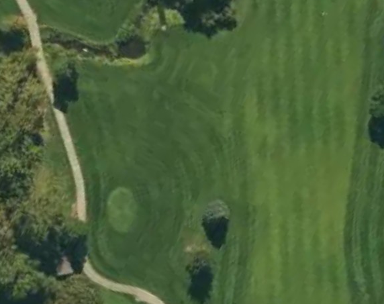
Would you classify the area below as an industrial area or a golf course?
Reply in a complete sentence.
This image shows a golf course.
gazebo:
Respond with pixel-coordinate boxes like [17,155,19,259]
[56,260,74,277]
